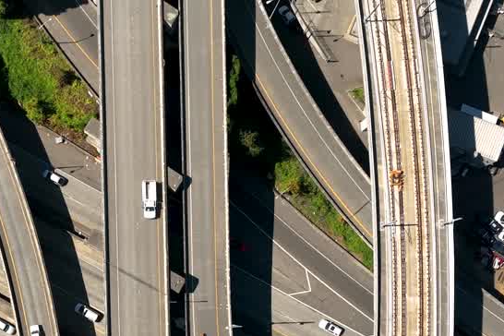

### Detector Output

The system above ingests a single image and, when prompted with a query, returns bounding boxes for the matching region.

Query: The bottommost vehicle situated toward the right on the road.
[317,319,343,336]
